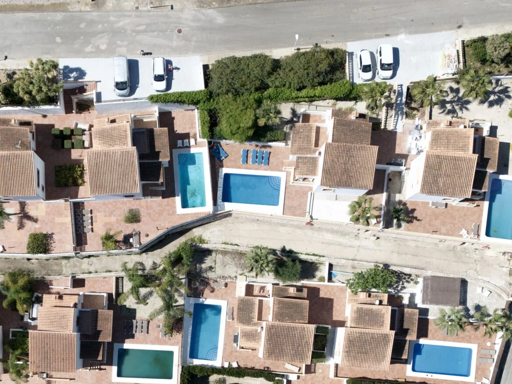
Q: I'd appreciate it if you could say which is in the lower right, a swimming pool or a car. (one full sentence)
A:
The one visible in the lower right is a swimming pool.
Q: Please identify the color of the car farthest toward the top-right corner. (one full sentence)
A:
In this view, the car farthest toward the top-right corner is white.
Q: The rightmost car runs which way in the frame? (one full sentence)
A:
I'd say the rightmost car is aligned from top to bottom in the picture.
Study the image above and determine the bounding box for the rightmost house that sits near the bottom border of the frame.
[331,290,418,371]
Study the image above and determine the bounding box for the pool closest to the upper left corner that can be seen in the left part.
[172,148,211,214]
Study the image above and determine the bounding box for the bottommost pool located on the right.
[406,340,478,382]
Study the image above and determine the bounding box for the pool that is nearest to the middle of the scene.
[216,168,286,214]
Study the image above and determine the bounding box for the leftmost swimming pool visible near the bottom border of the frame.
[111,343,179,384]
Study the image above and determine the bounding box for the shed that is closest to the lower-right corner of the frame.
[418,276,461,307]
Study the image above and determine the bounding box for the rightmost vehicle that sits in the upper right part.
[376,42,396,81]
